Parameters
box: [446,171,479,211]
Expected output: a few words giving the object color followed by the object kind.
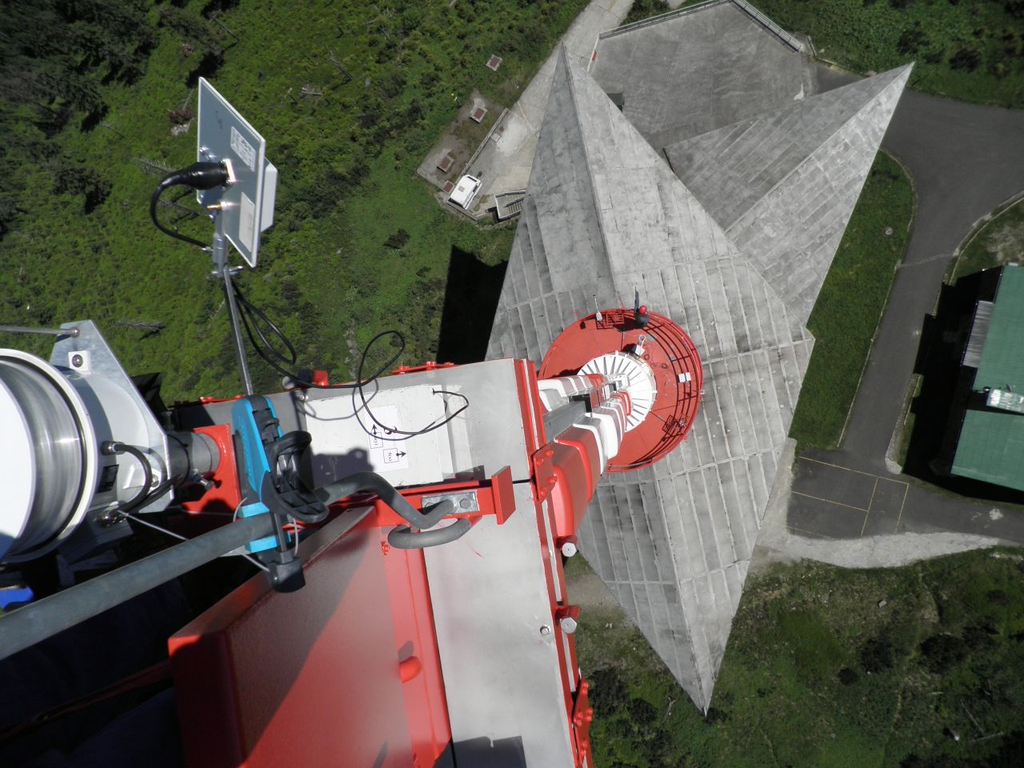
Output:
white van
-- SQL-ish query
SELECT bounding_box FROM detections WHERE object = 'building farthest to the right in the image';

[930,264,1024,493]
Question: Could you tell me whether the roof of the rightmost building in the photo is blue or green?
green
